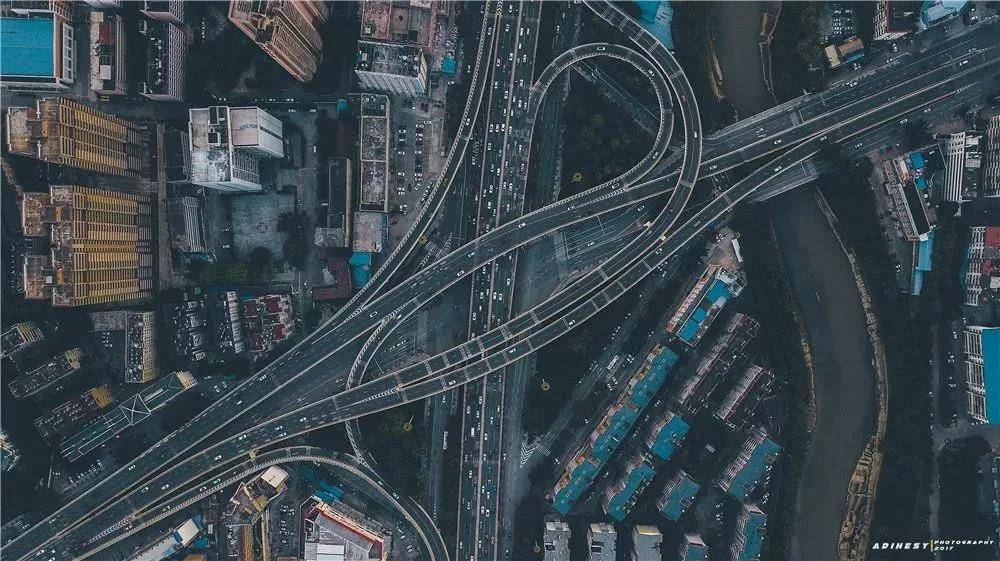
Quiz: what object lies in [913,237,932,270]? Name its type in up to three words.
shed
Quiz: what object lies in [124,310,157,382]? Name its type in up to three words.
building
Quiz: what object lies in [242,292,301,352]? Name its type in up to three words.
building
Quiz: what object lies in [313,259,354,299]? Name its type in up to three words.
house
